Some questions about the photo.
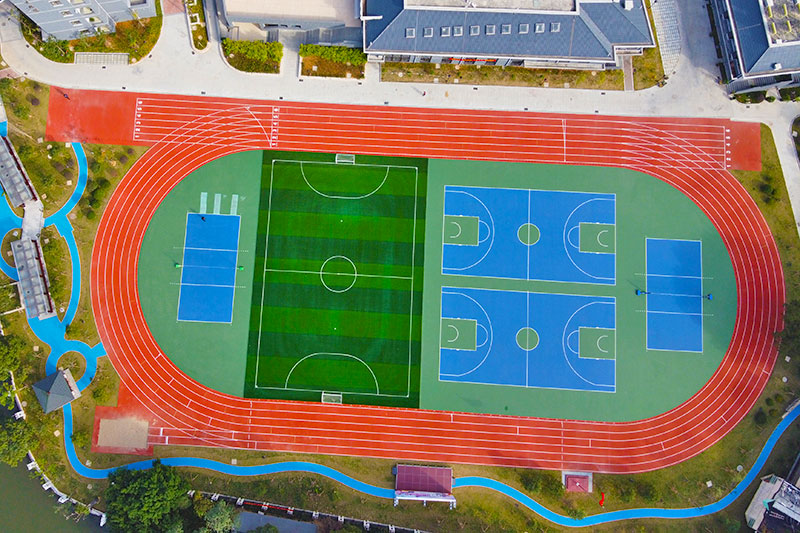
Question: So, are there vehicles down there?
No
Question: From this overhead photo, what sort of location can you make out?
sports ground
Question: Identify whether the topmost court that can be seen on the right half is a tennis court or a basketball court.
basketball court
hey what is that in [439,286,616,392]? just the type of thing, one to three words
basketball court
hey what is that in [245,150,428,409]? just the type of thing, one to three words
soccer field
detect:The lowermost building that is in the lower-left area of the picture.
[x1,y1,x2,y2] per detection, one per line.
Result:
[32,368,81,414]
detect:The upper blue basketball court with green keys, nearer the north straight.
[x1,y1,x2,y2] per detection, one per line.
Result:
[441,185,616,285]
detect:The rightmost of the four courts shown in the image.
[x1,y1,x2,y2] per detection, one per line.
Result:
[635,235,714,352]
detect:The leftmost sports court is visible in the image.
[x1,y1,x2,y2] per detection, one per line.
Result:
[170,210,249,323]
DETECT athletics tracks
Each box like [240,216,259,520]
[45,85,788,474]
